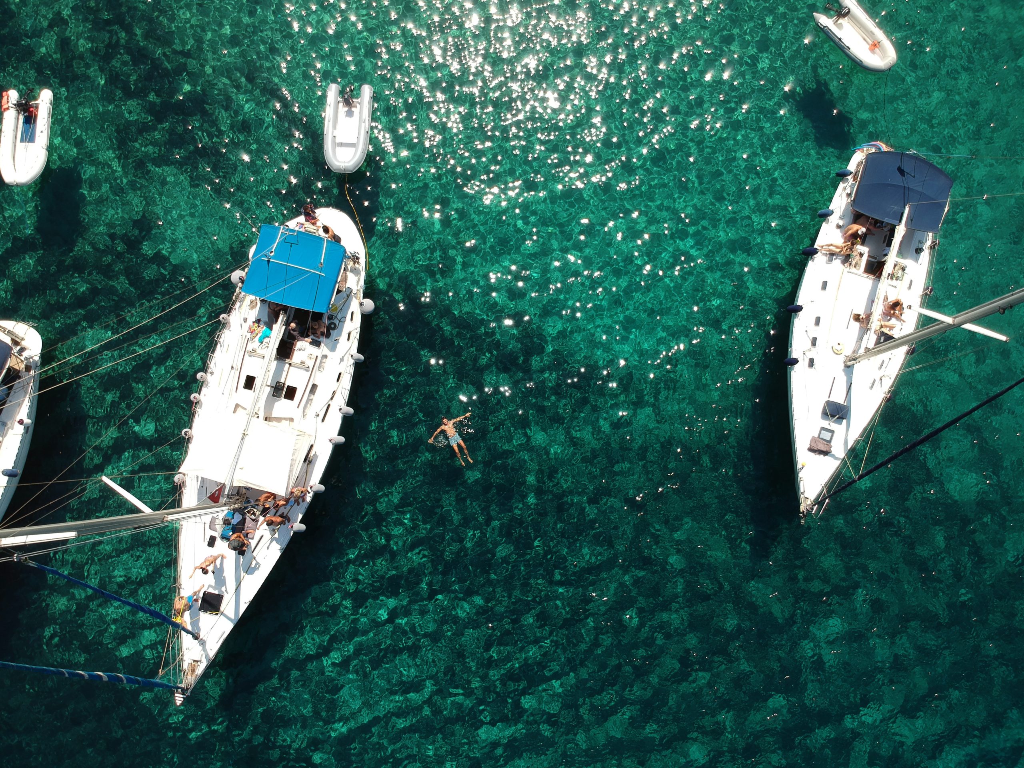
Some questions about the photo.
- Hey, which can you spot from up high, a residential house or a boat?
boat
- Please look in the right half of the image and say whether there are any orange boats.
No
